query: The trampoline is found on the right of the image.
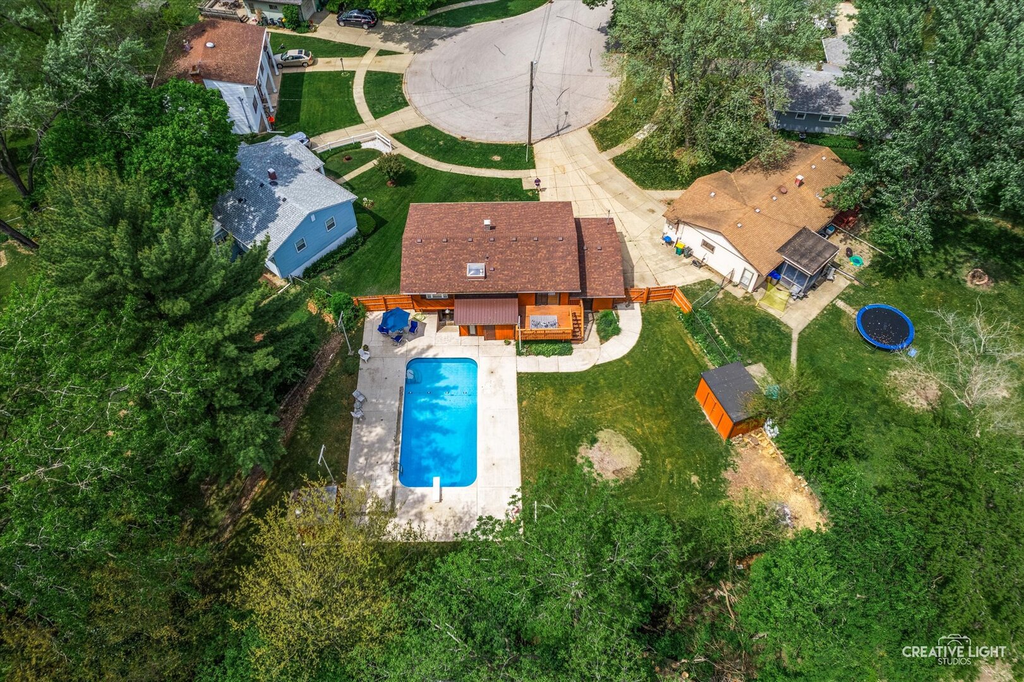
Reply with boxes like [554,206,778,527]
[855,307,913,355]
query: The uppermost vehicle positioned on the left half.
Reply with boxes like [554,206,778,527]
[334,7,379,31]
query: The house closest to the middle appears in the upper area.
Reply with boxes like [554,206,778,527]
[400,202,626,337]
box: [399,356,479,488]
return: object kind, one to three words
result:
swimming pool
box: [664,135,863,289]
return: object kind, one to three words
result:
house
